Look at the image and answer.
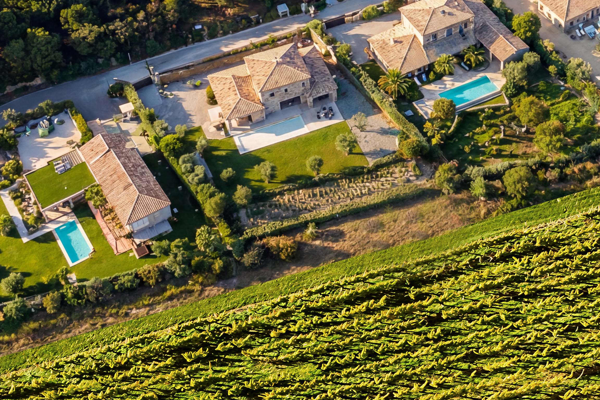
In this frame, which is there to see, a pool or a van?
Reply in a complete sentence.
Looking from above, you can make out a pool.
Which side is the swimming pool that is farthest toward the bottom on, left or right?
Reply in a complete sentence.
It is on the left.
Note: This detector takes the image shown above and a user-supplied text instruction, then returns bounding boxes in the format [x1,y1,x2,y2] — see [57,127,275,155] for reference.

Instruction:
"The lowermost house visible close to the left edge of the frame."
[23,129,172,236]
